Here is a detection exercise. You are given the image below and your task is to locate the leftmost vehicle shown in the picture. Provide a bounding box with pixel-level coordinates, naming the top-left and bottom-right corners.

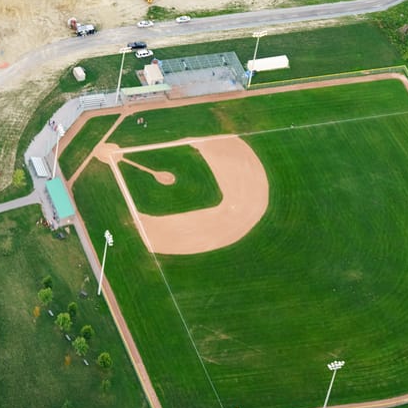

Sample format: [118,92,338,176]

[70,20,98,35]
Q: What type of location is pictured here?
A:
sports ground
